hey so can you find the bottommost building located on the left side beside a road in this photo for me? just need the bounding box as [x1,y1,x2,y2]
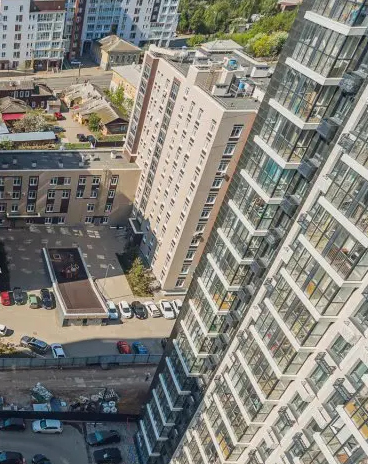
[43,246,109,327]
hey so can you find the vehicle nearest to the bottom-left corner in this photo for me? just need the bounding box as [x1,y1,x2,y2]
[0,450,22,464]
